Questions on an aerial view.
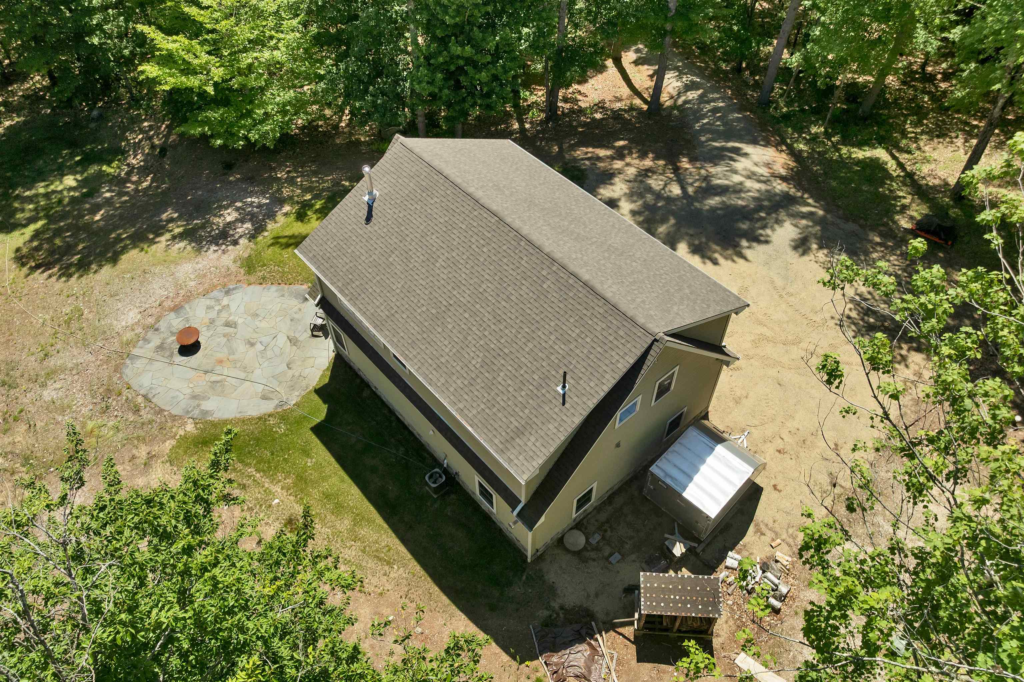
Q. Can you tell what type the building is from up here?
home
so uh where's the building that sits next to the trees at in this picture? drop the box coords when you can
[295,134,750,568]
